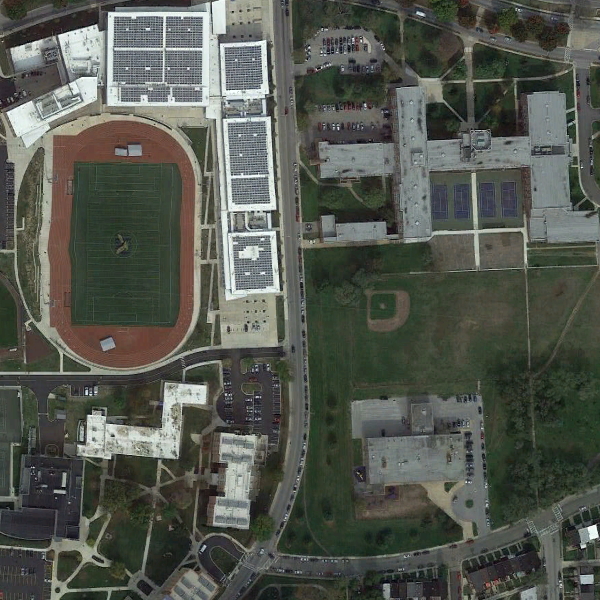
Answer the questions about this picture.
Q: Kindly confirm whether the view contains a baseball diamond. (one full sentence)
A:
Yes, the image includes a baseball diamond.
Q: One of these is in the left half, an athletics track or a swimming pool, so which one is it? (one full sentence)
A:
There is an athletics track in the left half.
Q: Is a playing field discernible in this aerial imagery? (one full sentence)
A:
Yes, the image includes a playing field.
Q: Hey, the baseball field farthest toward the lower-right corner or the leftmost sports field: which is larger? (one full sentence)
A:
The sports field covers a greater area than the baseball field.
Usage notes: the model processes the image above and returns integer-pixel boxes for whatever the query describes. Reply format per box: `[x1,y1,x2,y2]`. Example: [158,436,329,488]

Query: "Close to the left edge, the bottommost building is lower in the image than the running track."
[0,455,84,540]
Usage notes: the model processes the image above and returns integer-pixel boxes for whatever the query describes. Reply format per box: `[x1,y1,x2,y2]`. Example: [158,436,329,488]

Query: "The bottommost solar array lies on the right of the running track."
[233,236,273,289]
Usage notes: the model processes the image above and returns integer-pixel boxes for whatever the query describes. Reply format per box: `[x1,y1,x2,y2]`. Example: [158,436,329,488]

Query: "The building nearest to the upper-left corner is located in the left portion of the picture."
[6,35,59,74]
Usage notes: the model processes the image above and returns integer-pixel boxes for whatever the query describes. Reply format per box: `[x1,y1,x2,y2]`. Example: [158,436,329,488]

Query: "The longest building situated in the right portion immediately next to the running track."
[309,87,599,244]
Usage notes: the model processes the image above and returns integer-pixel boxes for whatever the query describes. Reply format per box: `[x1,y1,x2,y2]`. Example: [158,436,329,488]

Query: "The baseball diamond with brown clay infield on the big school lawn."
[365,290,410,332]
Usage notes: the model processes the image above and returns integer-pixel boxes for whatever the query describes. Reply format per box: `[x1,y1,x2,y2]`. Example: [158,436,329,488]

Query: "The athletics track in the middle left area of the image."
[48,121,195,367]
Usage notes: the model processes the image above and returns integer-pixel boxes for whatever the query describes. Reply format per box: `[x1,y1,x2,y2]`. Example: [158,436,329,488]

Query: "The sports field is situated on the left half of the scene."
[69,163,182,327]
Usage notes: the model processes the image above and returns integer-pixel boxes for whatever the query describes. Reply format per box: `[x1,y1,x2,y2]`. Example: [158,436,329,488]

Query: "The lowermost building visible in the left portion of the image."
[166,568,219,600]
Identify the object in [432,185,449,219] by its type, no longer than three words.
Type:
tennis court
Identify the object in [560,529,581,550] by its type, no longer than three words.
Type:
house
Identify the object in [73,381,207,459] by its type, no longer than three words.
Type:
building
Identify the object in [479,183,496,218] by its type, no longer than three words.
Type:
tennis court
